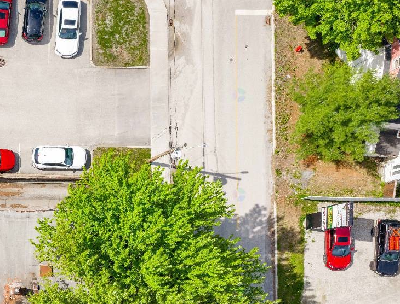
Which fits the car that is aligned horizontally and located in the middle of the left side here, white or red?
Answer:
white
